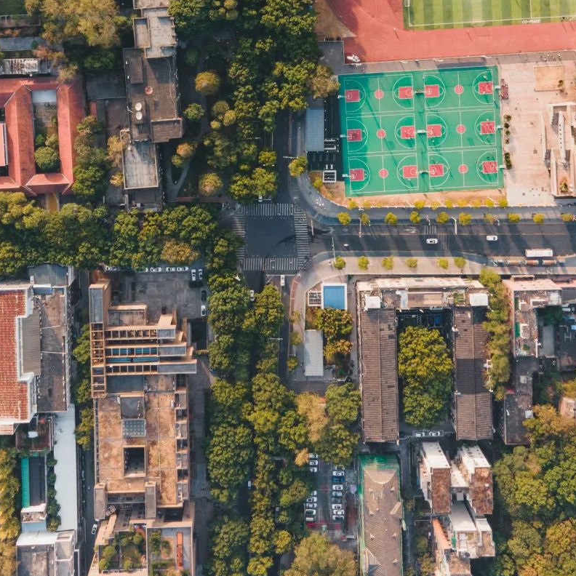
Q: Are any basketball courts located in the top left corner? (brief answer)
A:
No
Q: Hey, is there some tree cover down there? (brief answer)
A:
Yes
